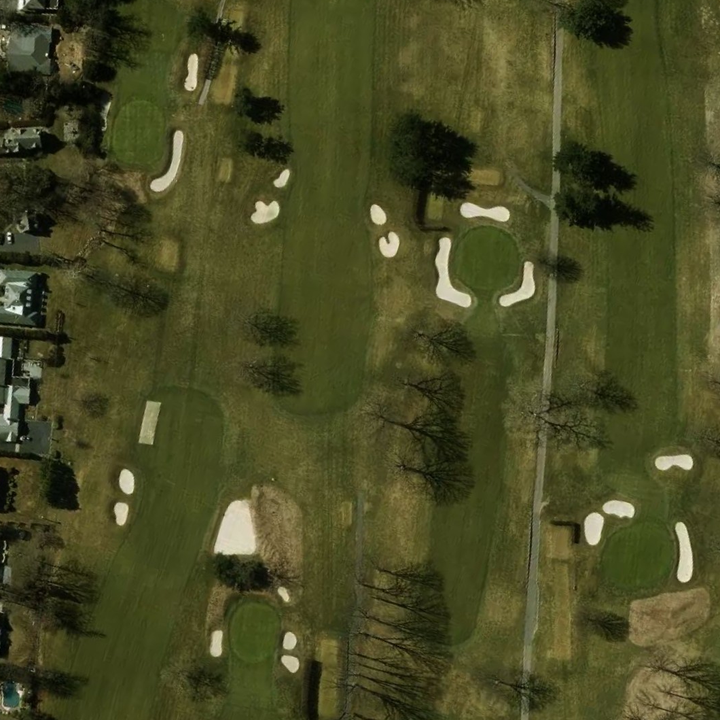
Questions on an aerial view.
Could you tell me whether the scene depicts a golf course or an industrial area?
golf course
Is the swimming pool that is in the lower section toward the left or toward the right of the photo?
left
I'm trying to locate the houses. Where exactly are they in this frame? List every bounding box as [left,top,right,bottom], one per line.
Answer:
[0,336,30,442]
[0,270,47,326]
[0,127,41,154]
[7,24,53,75]
[17,0,58,12]
[17,209,38,233]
